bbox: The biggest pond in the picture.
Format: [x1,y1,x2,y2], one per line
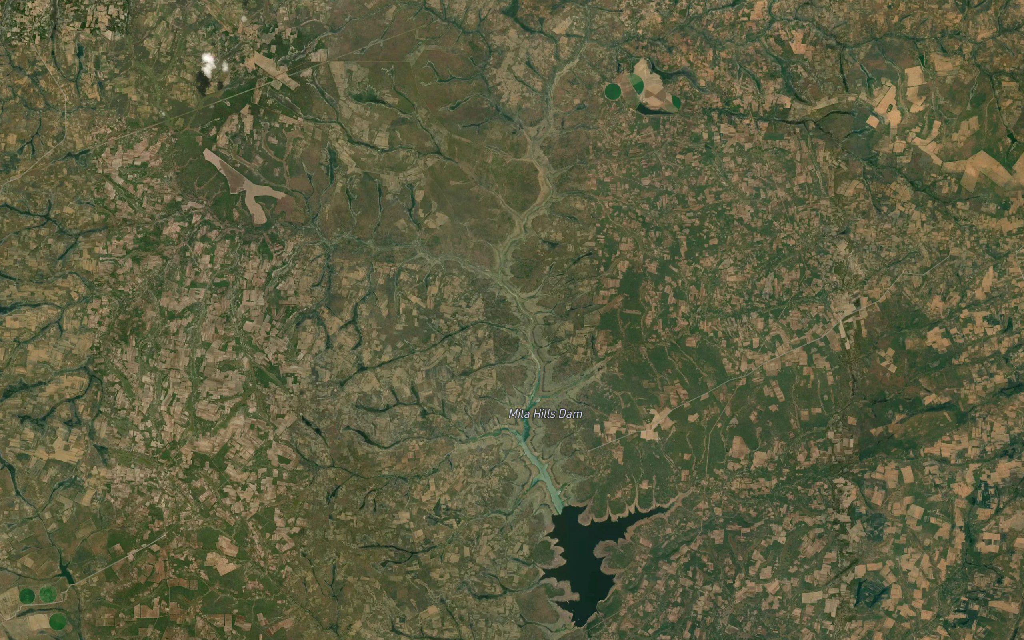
[540,504,673,627]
